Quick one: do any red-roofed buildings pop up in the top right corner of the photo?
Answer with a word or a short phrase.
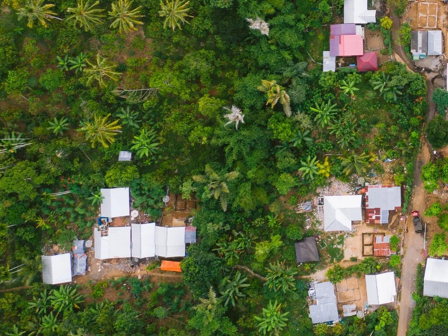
Yes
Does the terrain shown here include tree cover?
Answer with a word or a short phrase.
Yes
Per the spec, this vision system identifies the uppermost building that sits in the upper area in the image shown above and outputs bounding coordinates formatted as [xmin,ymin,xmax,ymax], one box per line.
[344,0,376,24]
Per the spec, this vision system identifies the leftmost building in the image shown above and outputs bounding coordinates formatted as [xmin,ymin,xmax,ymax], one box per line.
[42,253,76,283]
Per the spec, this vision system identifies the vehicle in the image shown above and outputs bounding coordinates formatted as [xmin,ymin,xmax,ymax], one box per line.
[409,209,423,234]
